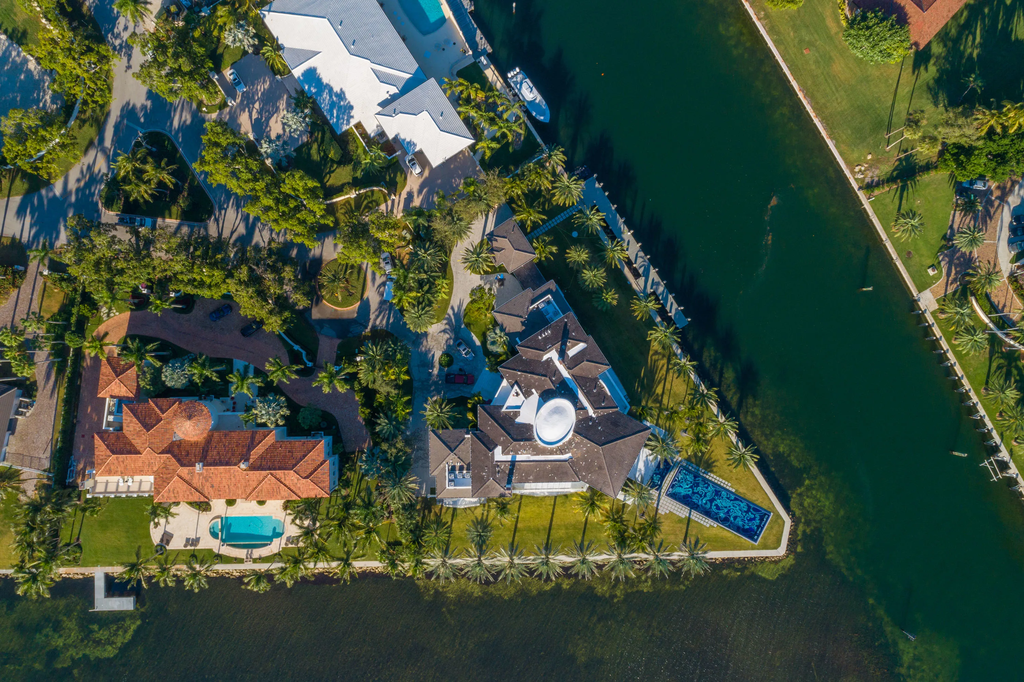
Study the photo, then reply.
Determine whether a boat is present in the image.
Yes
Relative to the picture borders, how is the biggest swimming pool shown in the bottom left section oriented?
from left to right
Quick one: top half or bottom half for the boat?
top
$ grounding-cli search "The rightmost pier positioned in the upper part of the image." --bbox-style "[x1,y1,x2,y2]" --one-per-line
[577,174,690,328]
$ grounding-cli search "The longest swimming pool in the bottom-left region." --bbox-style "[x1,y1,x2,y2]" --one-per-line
[221,514,286,544]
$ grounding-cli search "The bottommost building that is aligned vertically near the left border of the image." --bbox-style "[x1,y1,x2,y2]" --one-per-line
[0,387,37,465]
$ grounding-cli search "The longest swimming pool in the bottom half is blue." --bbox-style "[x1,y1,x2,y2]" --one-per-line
[662,463,775,546]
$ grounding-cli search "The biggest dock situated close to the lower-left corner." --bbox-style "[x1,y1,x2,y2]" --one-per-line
[90,572,136,611]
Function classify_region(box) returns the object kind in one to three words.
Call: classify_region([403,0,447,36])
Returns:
swimming pool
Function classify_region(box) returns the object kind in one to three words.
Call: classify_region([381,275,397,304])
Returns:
vehicle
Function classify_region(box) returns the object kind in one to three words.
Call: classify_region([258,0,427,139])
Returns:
house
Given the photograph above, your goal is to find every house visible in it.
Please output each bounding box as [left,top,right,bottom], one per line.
[893,0,968,54]
[0,387,37,465]
[429,279,679,508]
[258,0,427,139]
[94,359,341,504]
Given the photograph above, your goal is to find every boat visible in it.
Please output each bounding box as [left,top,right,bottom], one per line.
[504,63,550,125]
